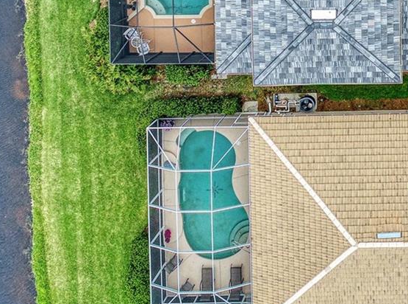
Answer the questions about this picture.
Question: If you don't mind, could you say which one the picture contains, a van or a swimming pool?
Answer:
swimming pool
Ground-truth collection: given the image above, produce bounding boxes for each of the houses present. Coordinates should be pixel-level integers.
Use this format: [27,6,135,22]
[246,111,408,304]
[211,0,408,89]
